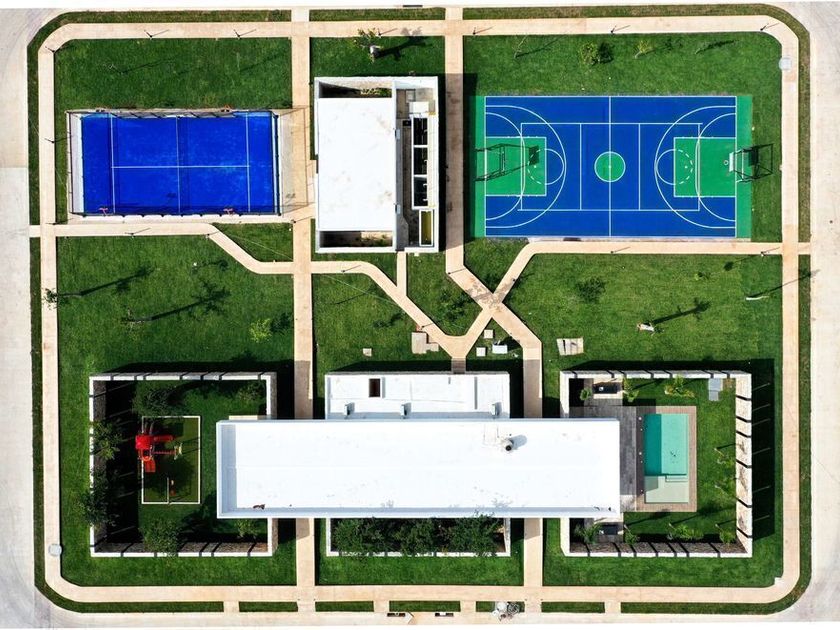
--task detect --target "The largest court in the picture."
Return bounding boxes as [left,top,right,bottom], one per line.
[474,96,751,237]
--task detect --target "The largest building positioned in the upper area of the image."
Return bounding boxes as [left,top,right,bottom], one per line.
[315,77,438,253]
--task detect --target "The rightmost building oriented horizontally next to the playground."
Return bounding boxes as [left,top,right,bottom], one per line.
[217,372,620,518]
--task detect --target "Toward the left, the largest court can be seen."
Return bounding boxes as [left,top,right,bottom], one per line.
[66,110,281,222]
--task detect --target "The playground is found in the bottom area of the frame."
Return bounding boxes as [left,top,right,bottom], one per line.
[140,416,201,505]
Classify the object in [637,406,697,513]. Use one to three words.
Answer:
swimming pool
